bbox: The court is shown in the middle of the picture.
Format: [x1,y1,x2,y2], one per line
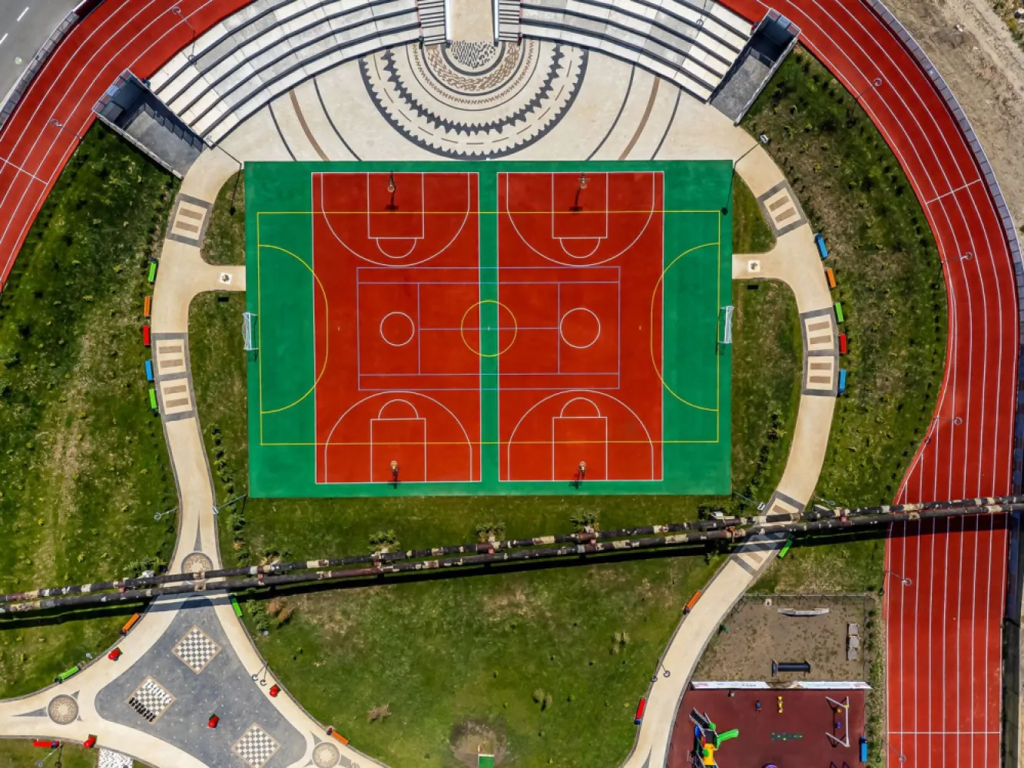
[244,160,732,498]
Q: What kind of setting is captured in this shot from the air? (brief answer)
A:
sports ground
